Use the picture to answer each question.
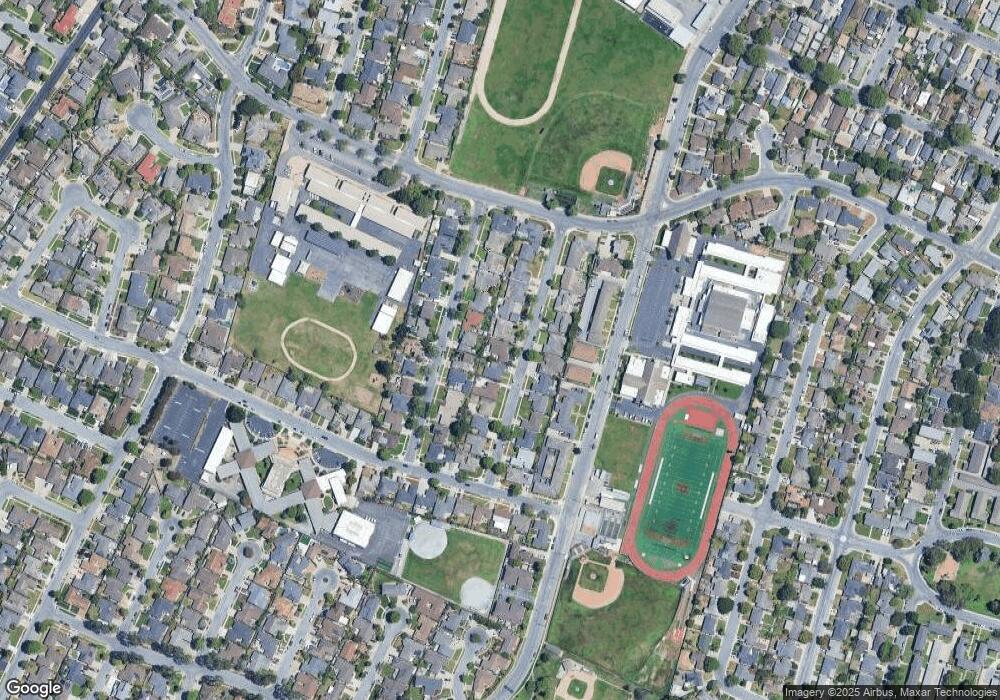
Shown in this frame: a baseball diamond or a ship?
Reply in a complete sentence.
Looking from above, you can make out a baseball diamond.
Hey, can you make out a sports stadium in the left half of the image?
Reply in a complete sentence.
No, I see no sports stadium in the left half of the image.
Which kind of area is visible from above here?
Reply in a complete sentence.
This looks like a residential area.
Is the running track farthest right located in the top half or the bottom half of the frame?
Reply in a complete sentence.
The running track farthest right sits in the top half of the picture.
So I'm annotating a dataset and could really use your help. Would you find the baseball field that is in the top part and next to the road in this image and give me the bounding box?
[579,150,633,201]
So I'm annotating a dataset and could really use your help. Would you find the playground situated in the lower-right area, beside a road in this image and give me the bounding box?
[934,551,959,582]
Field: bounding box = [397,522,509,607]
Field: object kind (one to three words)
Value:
baseball field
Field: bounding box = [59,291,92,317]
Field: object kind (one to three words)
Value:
house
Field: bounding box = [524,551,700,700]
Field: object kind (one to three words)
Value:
sports field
